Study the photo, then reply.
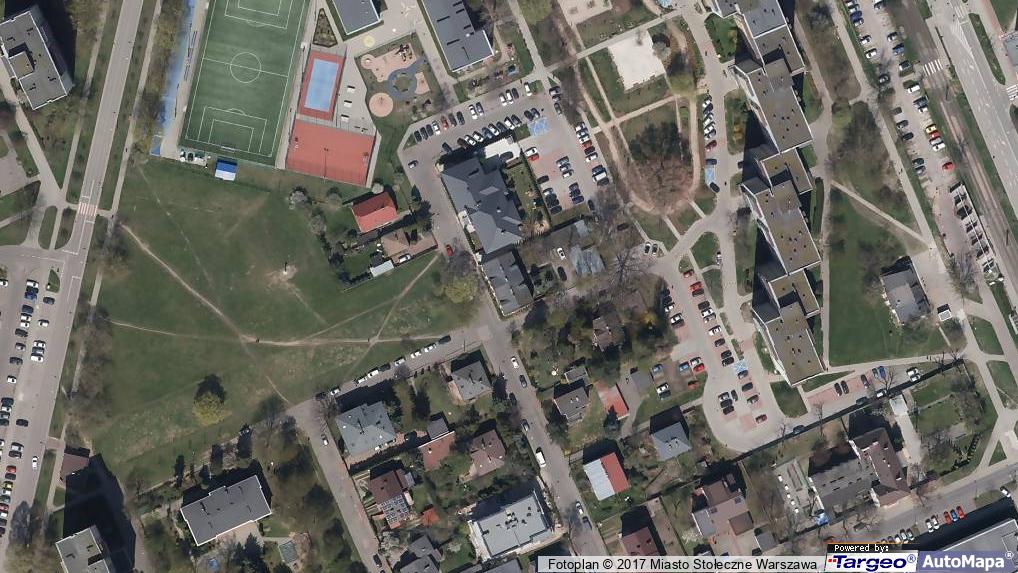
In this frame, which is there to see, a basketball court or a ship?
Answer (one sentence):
The one in the frame is a basketball court.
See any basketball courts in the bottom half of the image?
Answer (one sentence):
No, there is no basketball court in the bottom half of the image.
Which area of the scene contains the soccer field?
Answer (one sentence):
You can find the soccer field in the top left area of the picture.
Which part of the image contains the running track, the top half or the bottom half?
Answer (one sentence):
You can find the running track in the top half.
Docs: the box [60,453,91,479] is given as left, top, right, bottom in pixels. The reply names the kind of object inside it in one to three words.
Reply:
building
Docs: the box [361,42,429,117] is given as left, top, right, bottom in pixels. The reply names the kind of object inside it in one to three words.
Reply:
playground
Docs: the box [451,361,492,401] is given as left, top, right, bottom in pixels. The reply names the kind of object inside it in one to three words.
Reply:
house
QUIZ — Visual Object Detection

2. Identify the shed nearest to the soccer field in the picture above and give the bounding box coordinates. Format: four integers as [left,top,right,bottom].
[215,161,238,181]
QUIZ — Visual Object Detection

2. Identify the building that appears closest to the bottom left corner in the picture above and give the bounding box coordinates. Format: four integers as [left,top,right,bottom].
[57,516,123,573]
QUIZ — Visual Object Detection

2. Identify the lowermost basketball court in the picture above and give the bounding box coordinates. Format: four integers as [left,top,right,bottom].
[286,119,375,186]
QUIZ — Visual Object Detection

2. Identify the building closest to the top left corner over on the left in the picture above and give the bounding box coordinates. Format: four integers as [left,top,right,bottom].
[0,11,79,108]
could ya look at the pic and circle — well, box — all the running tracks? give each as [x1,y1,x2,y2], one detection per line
[151,0,195,157]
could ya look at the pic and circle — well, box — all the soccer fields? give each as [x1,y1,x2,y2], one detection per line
[177,0,310,167]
